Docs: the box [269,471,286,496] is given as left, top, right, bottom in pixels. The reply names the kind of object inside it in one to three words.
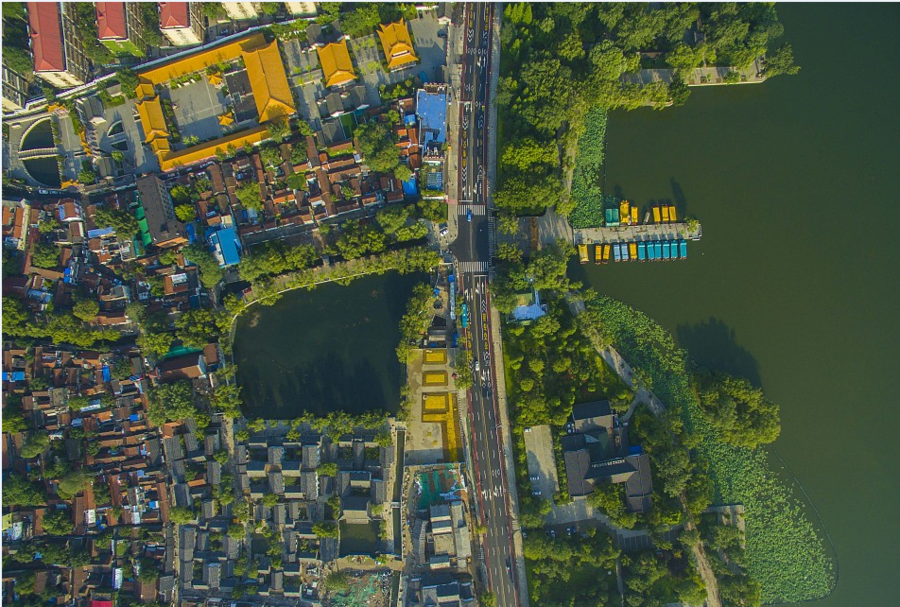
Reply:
house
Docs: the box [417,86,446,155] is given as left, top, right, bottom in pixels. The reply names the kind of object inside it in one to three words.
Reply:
building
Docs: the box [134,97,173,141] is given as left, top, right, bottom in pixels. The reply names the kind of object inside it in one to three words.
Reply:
building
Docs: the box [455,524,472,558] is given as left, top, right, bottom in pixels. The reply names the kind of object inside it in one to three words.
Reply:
shed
